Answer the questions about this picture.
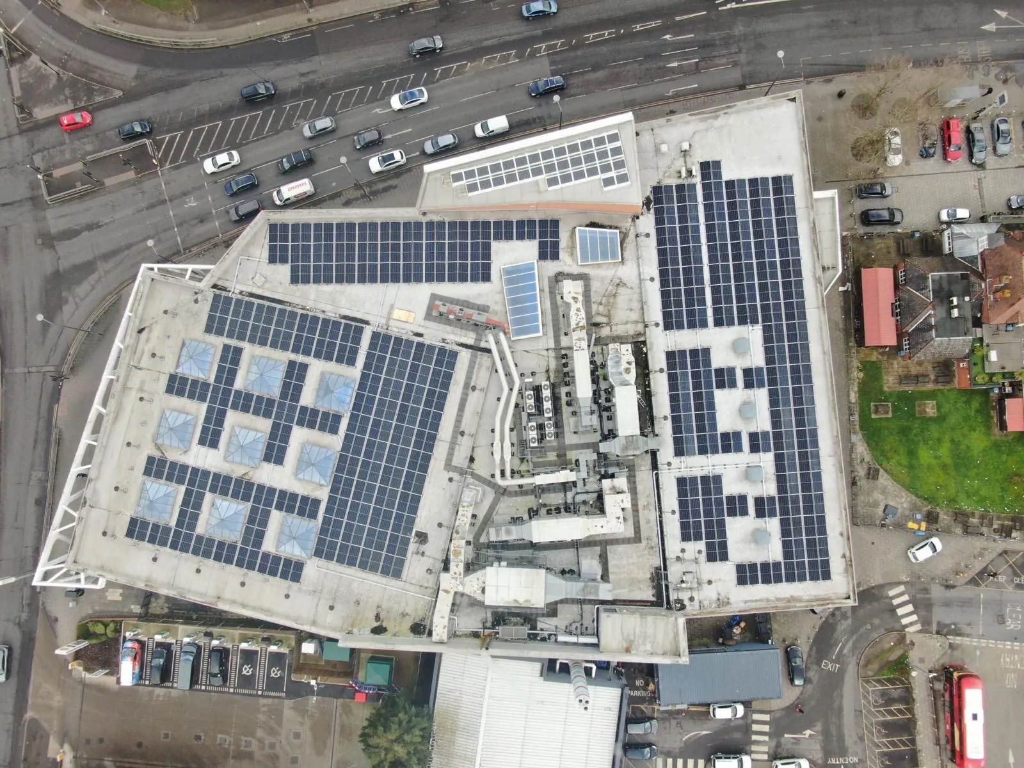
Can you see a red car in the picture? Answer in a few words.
Yes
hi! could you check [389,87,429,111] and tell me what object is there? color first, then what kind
white car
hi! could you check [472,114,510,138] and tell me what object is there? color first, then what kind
white vehicle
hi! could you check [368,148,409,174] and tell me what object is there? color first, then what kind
white car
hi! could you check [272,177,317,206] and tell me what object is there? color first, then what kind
white van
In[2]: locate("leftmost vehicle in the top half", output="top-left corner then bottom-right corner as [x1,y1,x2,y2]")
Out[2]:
[58,110,96,132]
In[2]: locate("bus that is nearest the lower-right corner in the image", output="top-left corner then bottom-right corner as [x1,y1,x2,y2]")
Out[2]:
[945,669,995,768]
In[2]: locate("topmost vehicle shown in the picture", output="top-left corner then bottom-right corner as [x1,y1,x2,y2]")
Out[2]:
[520,0,560,21]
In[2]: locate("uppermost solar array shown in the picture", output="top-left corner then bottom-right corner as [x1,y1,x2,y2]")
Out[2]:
[451,132,632,195]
